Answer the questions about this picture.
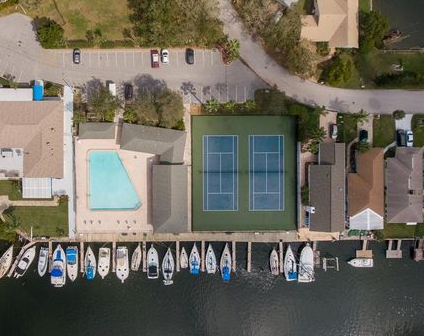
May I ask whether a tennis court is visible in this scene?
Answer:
Yes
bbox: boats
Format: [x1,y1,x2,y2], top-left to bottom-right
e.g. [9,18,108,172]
[0,244,13,278]
[131,244,141,271]
[161,243,176,280]
[36,245,49,279]
[296,242,315,285]
[163,280,173,287]
[115,243,130,285]
[96,243,110,280]
[204,243,218,274]
[345,259,375,267]
[83,243,96,280]
[65,247,79,284]
[51,243,66,287]
[179,244,189,269]
[268,245,285,276]
[220,243,236,282]
[13,244,36,280]
[188,243,201,275]
[146,244,158,280]
[283,243,306,281]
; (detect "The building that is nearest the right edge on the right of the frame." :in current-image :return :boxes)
[384,147,424,225]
